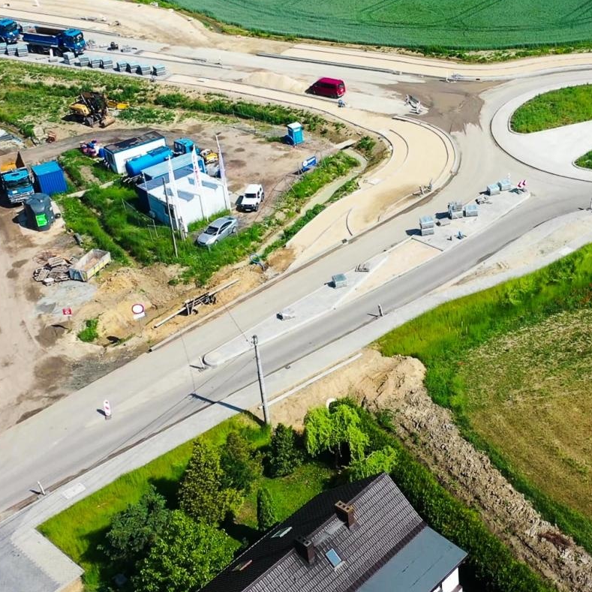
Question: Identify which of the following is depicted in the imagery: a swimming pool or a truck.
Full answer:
There is a truck in the scene.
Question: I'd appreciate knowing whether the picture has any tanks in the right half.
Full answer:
No, no tank appears in the right half.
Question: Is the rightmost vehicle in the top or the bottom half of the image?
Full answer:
The rightmost vehicle sits in the top half of the picture.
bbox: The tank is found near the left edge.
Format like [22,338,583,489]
[20,192,52,223]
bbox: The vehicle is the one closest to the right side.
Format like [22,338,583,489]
[305,77,343,97]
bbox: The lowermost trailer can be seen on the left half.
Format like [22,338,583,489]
[152,271,241,326]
